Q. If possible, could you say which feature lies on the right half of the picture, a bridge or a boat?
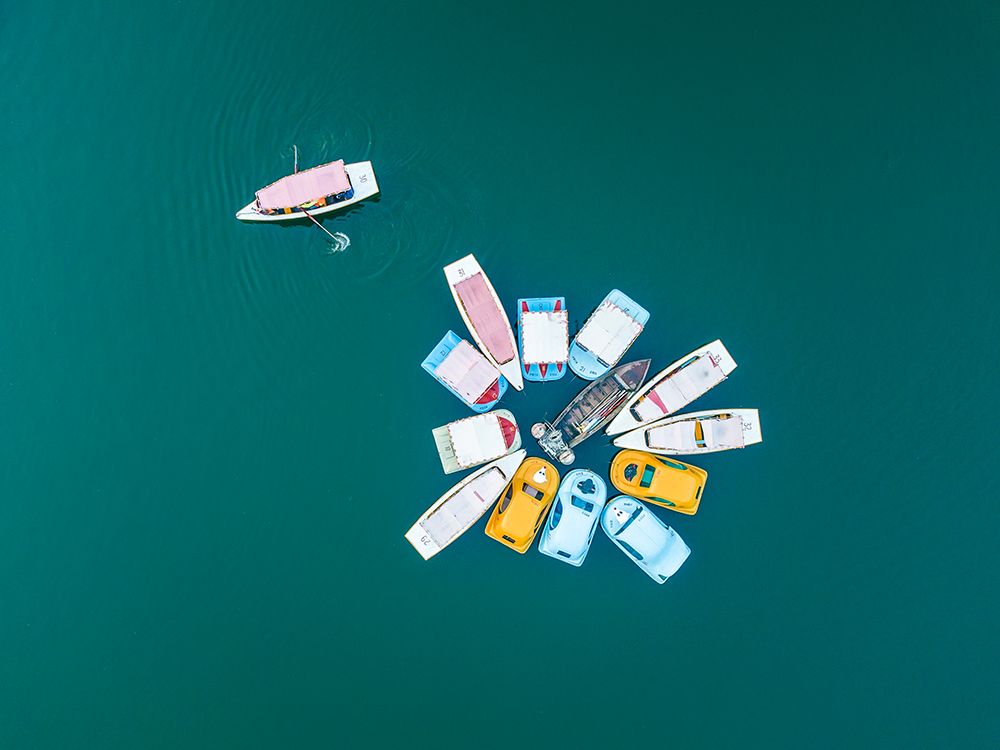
boat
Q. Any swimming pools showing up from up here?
No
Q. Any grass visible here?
No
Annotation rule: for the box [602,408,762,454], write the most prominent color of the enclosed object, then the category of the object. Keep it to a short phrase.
white boat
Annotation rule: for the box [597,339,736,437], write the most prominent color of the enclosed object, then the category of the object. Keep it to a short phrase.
white boat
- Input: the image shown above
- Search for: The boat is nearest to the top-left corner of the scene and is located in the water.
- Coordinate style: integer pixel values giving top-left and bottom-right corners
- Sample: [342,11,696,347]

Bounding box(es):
[235,159,380,220]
